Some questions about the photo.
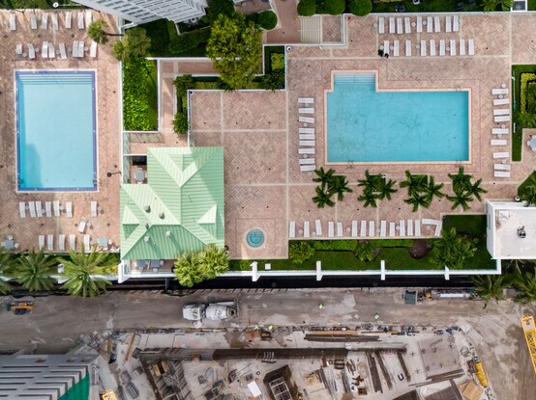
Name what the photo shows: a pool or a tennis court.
pool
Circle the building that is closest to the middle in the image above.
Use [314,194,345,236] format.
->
[112,146,224,263]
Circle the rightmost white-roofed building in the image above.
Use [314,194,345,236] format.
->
[486,201,536,260]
